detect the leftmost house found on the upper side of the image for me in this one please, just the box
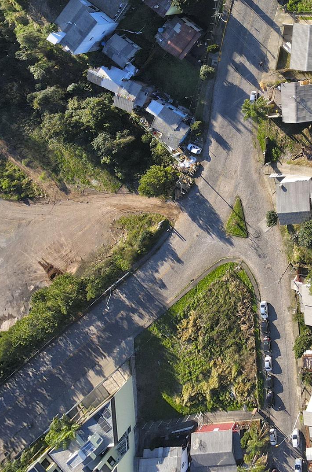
[46,0,115,54]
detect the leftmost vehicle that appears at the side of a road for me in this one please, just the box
[182,143,203,156]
